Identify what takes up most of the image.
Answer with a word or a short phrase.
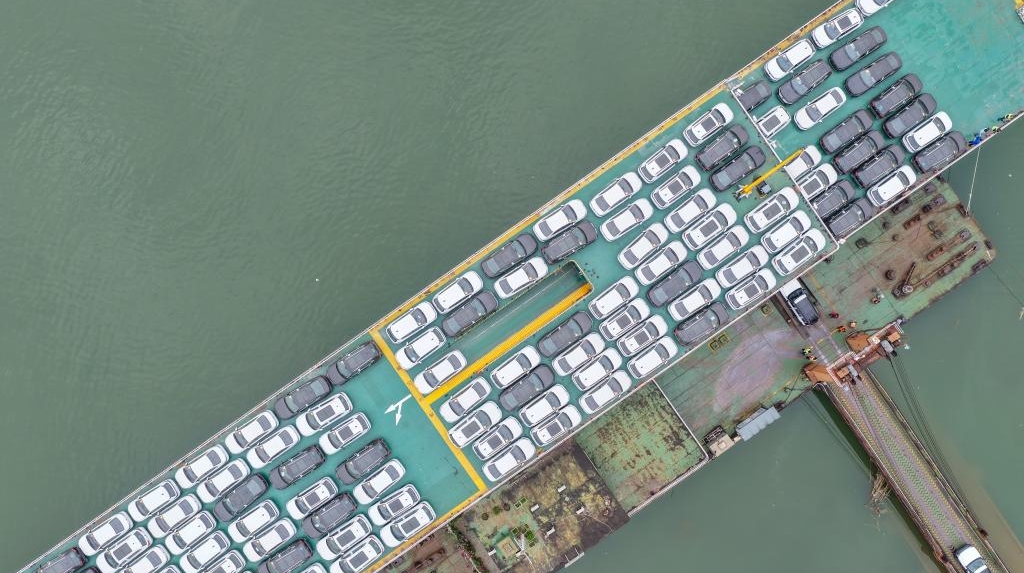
water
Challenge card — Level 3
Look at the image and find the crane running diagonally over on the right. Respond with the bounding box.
[729,151,804,202]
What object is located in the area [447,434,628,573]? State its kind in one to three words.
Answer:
boat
